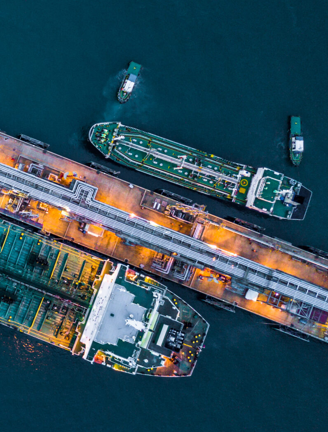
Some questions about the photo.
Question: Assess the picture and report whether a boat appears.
Yes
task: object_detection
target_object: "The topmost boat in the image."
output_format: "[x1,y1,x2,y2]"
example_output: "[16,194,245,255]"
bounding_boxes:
[117,60,142,104]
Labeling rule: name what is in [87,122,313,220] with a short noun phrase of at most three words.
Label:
ship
